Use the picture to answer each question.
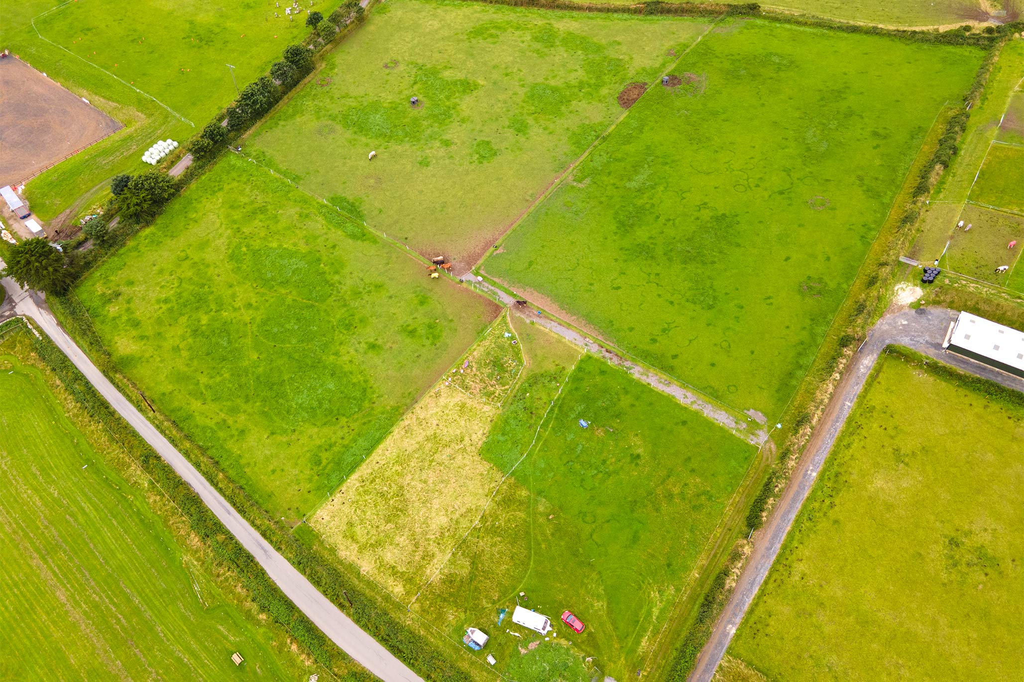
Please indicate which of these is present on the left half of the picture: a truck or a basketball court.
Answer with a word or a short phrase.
truck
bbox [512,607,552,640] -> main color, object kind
white camper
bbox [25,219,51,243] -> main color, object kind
white truck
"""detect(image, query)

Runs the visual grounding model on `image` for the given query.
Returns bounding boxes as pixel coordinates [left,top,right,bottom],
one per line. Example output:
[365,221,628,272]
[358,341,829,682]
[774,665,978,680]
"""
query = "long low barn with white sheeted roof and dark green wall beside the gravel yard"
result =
[946,310,1024,381]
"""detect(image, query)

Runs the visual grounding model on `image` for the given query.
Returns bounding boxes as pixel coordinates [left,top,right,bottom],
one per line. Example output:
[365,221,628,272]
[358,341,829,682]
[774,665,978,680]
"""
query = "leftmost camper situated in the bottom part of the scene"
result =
[464,628,489,648]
